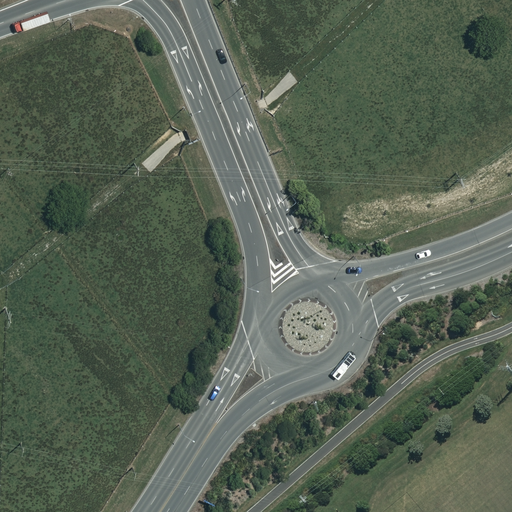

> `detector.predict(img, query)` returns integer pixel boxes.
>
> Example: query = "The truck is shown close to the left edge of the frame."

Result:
[10,12,52,34]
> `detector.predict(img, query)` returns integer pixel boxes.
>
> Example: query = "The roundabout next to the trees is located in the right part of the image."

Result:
[259,278,357,376]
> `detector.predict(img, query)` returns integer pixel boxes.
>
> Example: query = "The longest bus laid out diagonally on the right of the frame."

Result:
[330,349,356,382]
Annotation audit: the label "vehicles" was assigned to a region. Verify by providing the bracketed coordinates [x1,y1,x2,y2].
[415,249,430,259]
[330,349,356,382]
[208,386,219,400]
[346,266,362,274]
[216,48,226,64]
[10,12,52,34]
